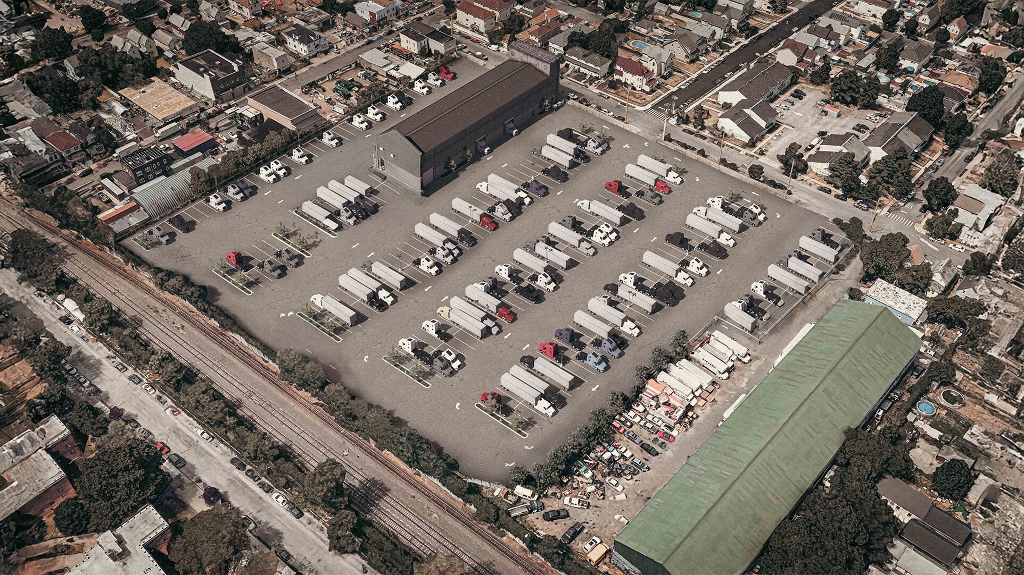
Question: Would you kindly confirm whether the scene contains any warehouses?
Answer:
Yes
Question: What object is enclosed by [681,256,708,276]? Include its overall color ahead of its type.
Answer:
white vehicle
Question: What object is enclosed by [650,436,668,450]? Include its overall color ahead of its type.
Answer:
gray car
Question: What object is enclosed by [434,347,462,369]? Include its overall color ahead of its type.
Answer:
white truck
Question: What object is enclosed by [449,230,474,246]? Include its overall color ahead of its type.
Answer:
black vehicle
